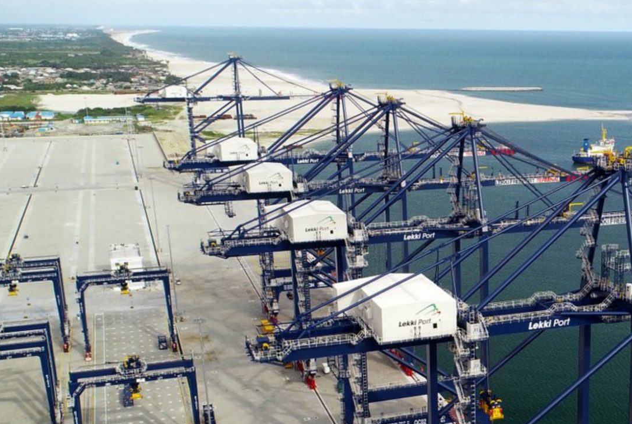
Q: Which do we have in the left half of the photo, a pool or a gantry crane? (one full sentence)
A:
Looking in the left half of the photo, you will find a gantry crane.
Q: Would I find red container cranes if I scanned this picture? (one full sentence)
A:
No, I can see no red container crane in this picture.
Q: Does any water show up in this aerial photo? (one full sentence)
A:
Yes, there's water in this view.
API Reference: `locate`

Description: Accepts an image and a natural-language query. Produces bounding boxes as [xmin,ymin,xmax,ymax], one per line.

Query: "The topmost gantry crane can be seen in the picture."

[133,53,326,191]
